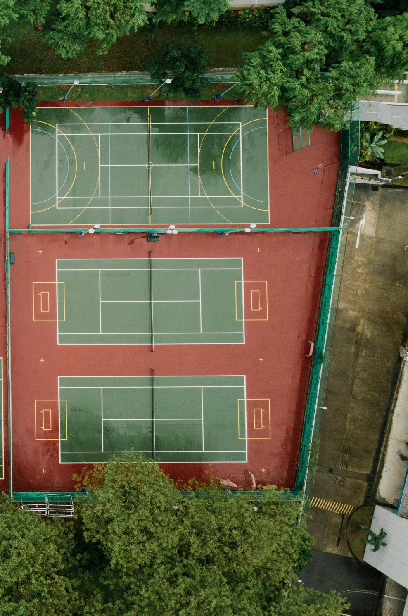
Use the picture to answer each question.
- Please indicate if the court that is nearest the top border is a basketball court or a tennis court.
tennis court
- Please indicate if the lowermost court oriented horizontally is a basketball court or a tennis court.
tennis court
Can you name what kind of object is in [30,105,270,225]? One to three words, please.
tennis court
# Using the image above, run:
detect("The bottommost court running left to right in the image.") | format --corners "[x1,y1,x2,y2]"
[35,375,271,473]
